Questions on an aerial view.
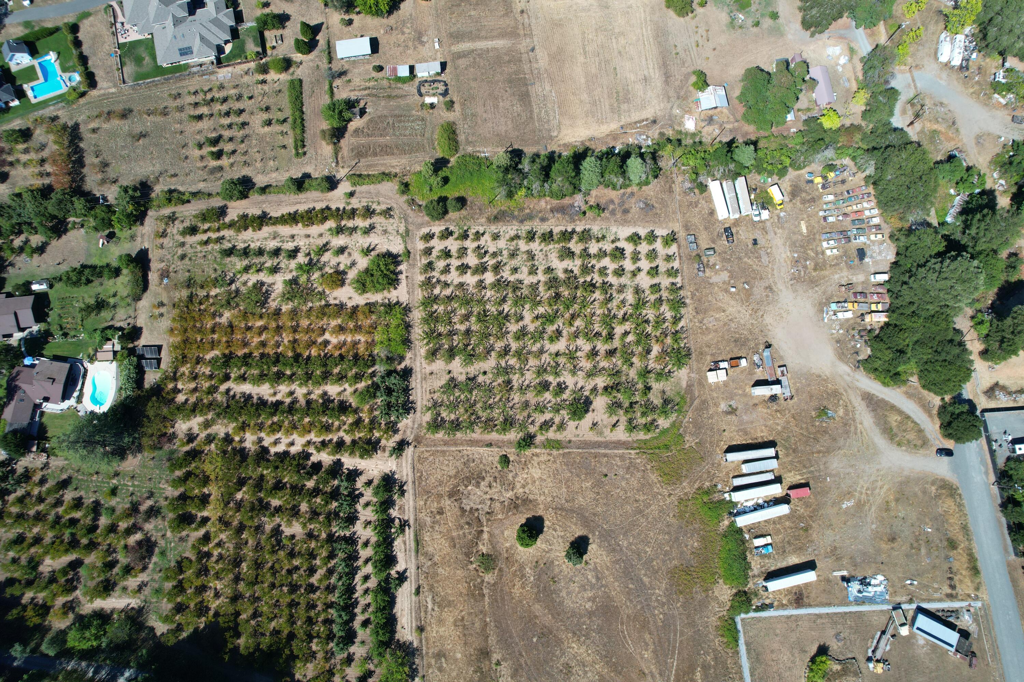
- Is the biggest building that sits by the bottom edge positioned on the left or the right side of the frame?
right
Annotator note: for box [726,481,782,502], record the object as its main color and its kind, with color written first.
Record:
white trailer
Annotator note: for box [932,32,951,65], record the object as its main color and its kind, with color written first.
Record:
white camper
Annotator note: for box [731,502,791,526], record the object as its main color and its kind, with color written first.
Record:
white trailer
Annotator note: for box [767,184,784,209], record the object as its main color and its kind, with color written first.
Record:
white vehicle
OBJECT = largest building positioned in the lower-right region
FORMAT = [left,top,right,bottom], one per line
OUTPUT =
[906,609,960,652]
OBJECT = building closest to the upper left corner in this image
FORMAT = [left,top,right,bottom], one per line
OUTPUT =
[1,38,36,66]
